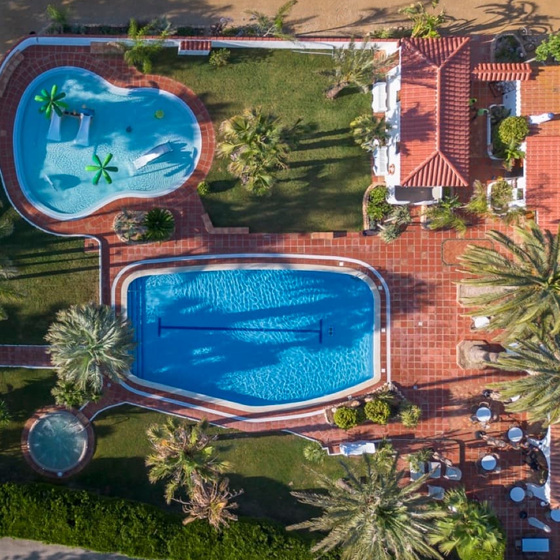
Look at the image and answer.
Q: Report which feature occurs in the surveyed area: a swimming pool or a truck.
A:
swimming pool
